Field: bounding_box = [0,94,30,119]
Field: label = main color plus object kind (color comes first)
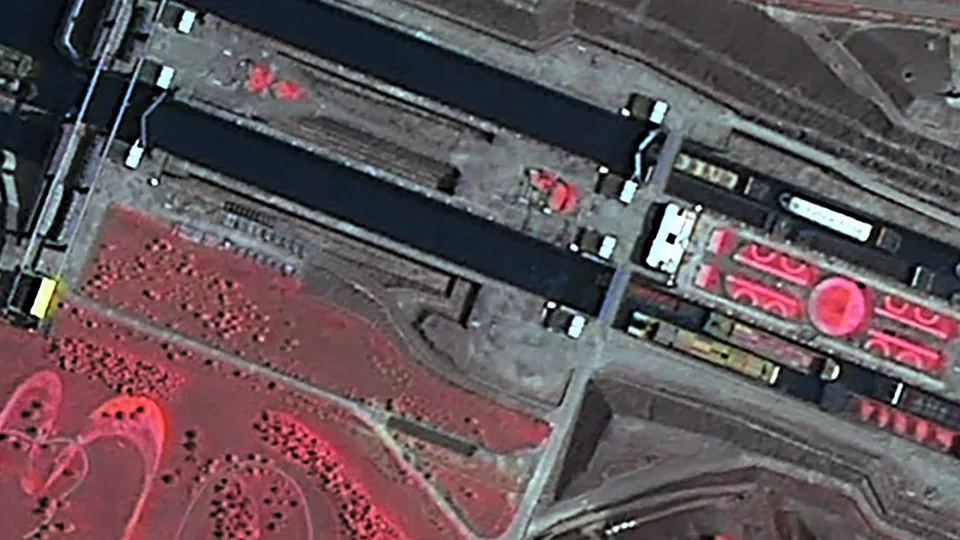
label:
gray ship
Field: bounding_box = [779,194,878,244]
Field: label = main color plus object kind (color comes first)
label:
white ship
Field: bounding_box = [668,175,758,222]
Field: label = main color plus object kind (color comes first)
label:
black ship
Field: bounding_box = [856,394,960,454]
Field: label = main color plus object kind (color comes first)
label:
red ship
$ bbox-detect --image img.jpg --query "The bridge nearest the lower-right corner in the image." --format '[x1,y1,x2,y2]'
[597,261,637,328]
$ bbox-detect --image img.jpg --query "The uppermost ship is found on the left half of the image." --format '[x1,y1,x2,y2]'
[0,42,39,87]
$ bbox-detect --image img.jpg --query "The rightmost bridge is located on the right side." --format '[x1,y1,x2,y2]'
[641,127,683,198]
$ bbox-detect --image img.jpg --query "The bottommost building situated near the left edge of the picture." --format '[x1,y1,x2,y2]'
[28,278,55,319]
